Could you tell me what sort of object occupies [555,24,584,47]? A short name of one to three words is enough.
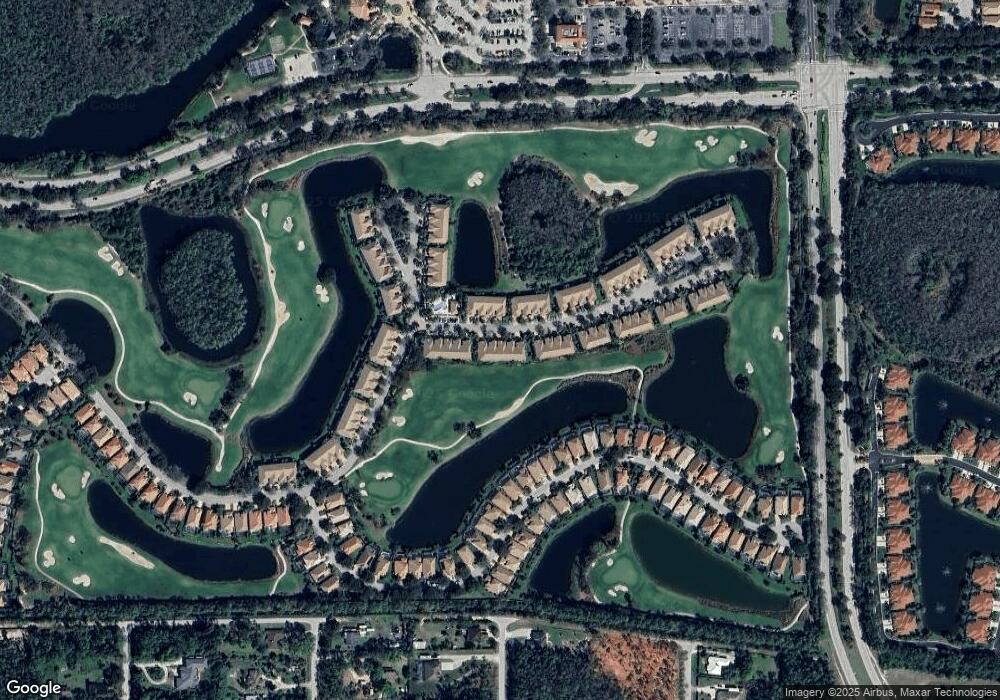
building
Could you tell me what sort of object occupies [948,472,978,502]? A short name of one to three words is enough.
house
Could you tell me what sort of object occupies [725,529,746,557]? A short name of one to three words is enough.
house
